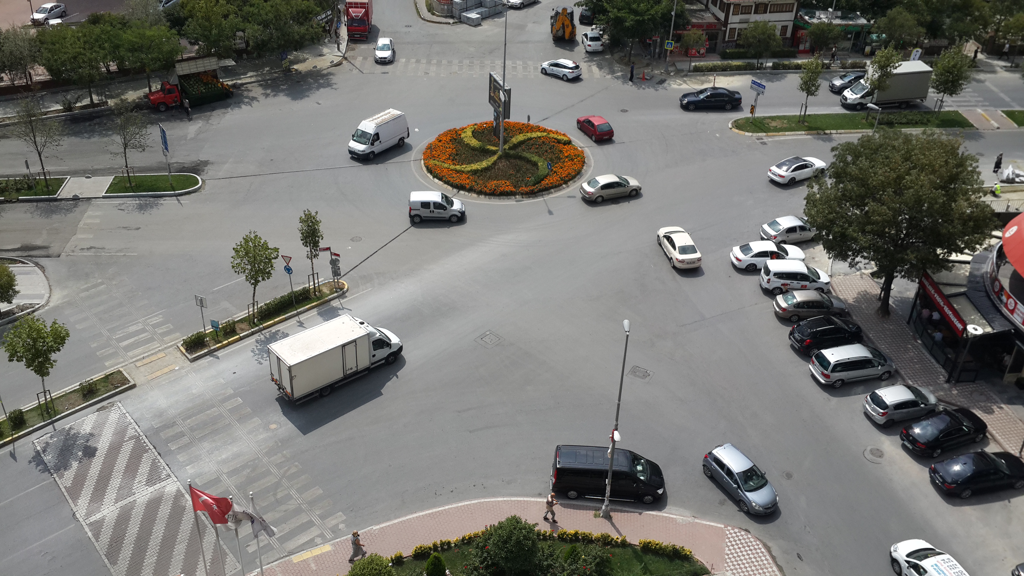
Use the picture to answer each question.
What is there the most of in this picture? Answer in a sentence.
For the most part, this view shows paved ground.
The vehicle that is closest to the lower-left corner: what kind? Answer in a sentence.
I'd say the vehicle that is closest to the lower-left corner is a truck.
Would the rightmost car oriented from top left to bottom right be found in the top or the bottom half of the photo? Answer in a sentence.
You can find the rightmost car oriented from top left to bottom right in the bottom half.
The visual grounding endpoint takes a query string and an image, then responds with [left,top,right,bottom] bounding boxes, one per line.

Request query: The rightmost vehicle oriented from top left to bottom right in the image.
[701,440,784,519]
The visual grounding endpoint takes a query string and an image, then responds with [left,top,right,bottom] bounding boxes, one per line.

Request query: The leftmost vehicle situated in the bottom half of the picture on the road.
[271,307,409,405]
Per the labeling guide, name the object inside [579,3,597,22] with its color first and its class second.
black car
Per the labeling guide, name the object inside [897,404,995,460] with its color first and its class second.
black car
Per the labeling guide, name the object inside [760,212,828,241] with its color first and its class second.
gray car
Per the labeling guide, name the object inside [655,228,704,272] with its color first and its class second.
white car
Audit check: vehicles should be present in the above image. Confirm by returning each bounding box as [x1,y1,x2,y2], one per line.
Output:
[678,87,742,110]
[342,0,383,36]
[859,379,941,428]
[581,32,606,54]
[575,114,616,142]
[701,440,784,519]
[768,285,852,322]
[577,173,644,204]
[885,536,999,576]
[579,3,597,22]
[506,0,531,8]
[760,212,828,241]
[788,312,866,356]
[754,254,832,293]
[551,2,576,37]
[838,65,927,110]
[769,154,828,185]
[271,307,409,405]
[897,404,995,460]
[141,56,230,110]
[830,71,862,91]
[655,228,704,272]
[404,190,466,223]
[26,0,71,23]
[728,237,806,272]
[348,109,410,160]
[370,37,396,62]
[536,57,585,81]
[926,445,1024,500]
